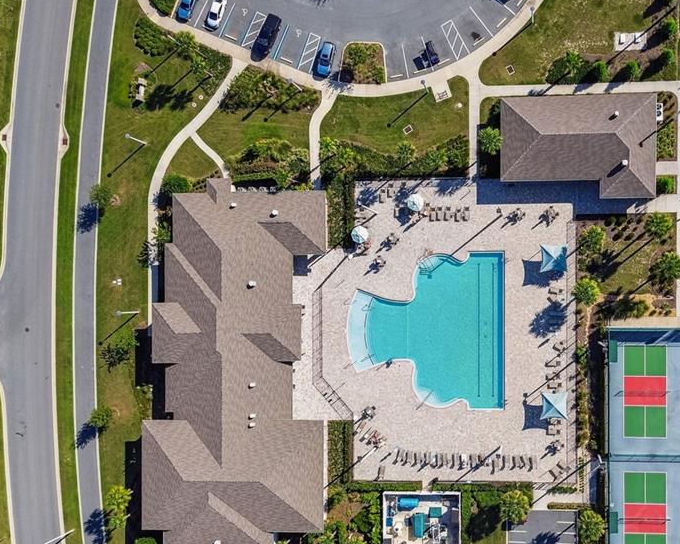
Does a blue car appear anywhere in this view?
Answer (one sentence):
Yes, a blue car is visible in the scene.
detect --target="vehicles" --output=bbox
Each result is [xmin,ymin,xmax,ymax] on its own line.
[315,42,334,78]
[204,0,225,31]
[425,46,439,67]
[251,15,280,59]
[177,0,196,22]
